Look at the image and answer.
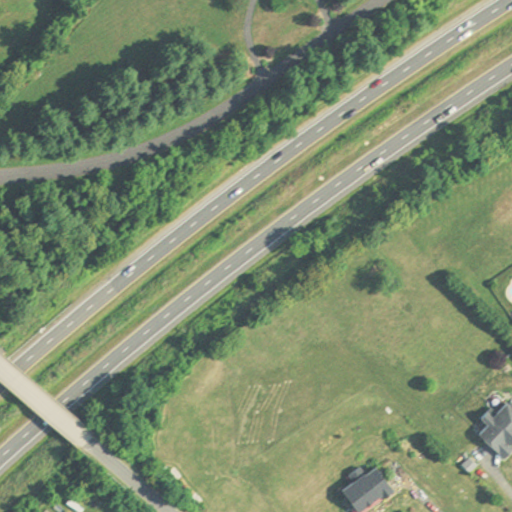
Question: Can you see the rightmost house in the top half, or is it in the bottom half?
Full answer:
Seen from above, the rightmost house lies in the bottom half of the view.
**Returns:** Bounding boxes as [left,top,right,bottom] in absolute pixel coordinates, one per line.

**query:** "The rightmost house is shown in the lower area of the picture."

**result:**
[480,404,512,459]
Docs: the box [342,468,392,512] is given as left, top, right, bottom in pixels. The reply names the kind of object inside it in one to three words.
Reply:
house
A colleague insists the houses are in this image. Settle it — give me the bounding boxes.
[342,468,392,512]
[480,404,512,459]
